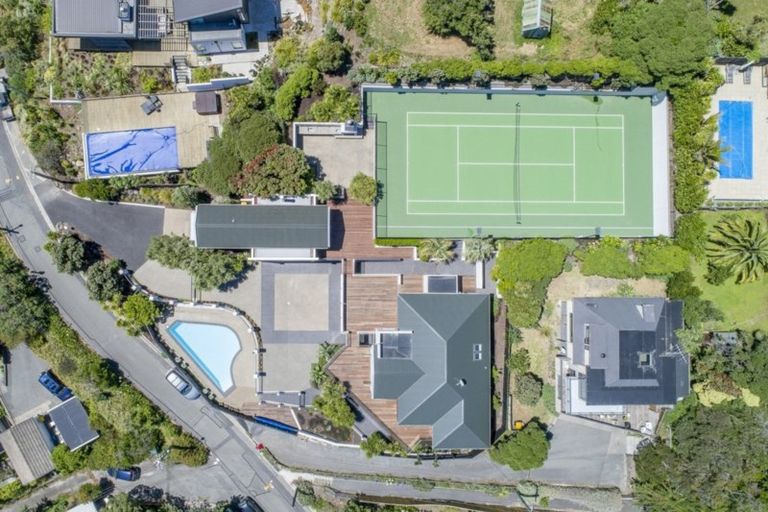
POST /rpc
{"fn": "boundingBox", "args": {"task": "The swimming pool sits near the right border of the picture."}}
[718,100,752,179]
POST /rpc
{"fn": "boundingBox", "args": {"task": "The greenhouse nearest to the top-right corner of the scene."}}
[518,0,551,38]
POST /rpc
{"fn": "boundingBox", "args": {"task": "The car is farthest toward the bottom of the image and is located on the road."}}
[231,487,268,512]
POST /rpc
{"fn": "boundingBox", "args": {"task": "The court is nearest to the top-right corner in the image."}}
[365,92,672,238]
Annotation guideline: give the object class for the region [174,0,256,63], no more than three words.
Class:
house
